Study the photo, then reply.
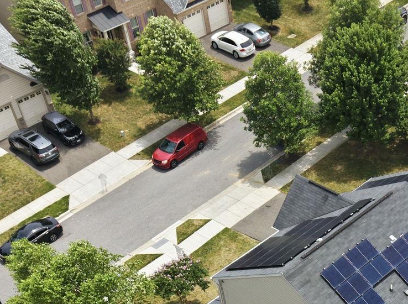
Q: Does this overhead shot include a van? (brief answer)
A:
Yes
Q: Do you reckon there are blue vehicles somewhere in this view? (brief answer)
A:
No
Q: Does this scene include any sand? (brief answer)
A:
No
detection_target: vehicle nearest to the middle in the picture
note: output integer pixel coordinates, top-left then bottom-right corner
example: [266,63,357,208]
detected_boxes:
[149,125,215,176]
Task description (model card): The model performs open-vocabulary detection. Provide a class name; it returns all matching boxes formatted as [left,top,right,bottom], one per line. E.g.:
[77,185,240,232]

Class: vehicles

[6,126,62,167]
[211,33,258,63]
[149,125,215,176]
[0,218,73,271]
[33,109,86,149]
[227,22,275,50]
